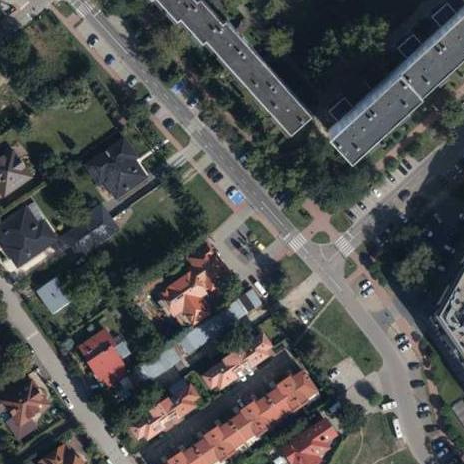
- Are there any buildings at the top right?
Yes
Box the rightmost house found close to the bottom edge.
[277,418,338,464]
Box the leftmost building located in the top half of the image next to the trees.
[0,146,34,199]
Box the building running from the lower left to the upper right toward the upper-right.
[321,11,464,167]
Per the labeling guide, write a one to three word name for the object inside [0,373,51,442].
house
